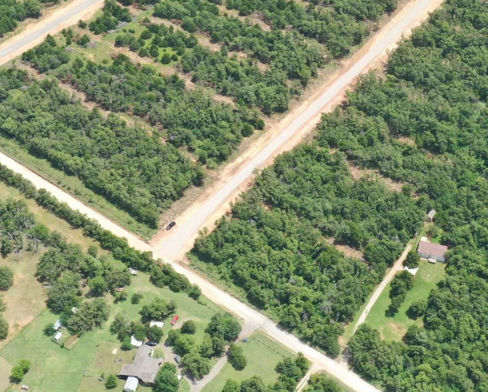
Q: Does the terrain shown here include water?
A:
No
